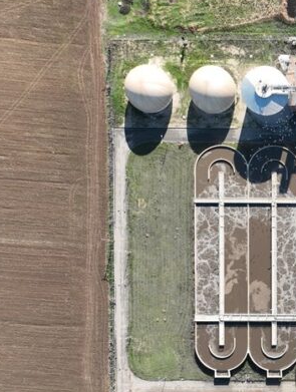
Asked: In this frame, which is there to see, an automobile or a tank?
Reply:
tank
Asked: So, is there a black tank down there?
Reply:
No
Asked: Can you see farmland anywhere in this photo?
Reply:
Yes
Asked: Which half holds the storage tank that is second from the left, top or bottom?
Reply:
top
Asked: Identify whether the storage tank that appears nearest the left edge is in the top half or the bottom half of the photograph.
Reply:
top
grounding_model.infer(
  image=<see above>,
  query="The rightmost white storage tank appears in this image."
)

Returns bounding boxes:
[239,67,296,128]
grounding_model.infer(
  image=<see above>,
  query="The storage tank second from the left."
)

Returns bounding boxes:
[187,64,240,114]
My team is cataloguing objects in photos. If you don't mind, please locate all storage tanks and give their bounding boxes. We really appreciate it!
[239,67,296,128]
[122,63,182,114]
[187,64,240,114]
